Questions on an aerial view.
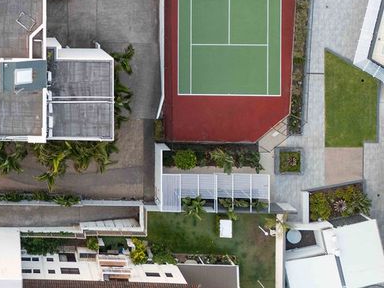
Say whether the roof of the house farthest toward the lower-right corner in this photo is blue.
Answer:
No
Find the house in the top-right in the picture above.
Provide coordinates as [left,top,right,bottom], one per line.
[345,0,384,82]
